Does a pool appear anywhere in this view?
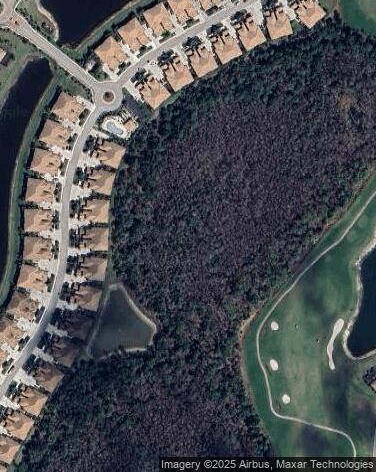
Yes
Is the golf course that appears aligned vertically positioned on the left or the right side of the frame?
right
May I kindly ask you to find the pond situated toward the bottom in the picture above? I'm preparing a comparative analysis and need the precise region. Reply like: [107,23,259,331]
[91,282,153,355]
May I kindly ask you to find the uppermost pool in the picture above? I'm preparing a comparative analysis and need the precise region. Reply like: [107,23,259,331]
[101,115,130,140]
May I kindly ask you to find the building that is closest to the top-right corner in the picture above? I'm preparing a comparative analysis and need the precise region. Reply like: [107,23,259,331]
[285,0,325,29]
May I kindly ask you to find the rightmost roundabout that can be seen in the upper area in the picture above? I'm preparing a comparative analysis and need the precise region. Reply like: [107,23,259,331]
[95,82,123,110]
